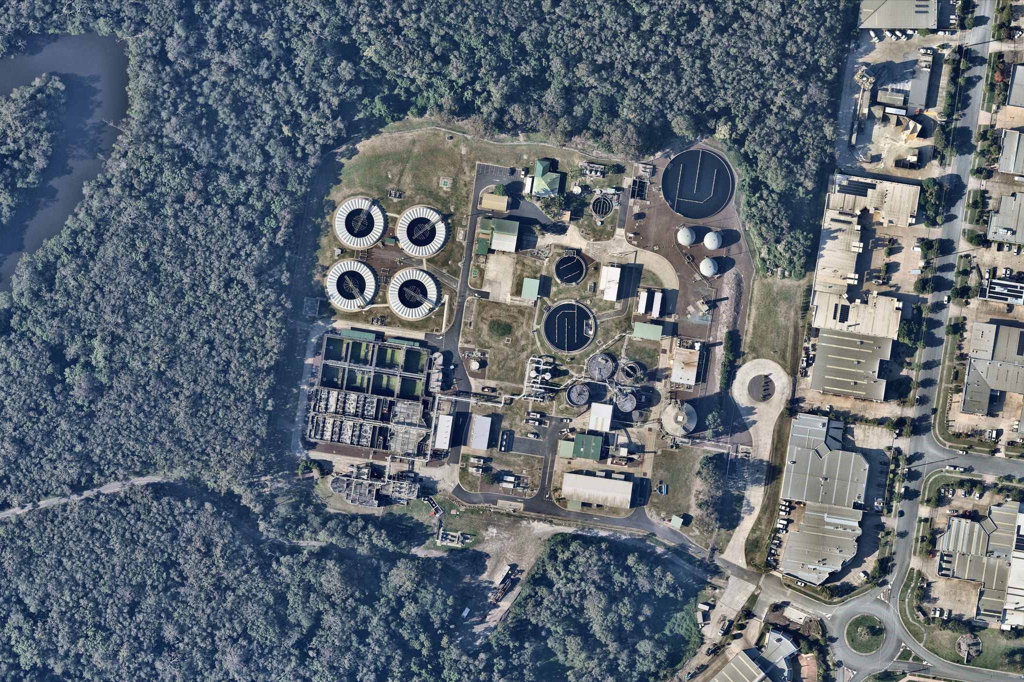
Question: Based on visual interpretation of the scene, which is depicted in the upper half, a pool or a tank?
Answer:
tank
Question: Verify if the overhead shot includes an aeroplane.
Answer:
No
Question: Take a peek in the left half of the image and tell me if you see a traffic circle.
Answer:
No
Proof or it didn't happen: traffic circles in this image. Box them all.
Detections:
[845,614,886,655]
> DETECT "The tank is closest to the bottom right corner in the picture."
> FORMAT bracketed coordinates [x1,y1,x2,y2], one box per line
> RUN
[659,400,697,437]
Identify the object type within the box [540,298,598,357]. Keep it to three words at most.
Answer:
storage tank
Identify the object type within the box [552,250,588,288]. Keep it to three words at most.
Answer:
storage tank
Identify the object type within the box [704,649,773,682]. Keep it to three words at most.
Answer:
building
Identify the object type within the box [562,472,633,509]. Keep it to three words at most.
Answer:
shed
